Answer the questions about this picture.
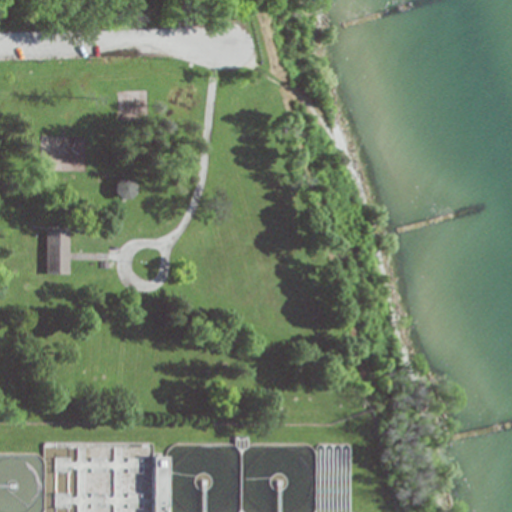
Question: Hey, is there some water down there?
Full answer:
Yes, water shows up in the scene.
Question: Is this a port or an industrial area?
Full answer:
The picture captures an industrial area.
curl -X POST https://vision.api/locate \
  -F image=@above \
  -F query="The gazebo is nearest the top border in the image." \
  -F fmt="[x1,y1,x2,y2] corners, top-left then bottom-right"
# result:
[118,180,138,200]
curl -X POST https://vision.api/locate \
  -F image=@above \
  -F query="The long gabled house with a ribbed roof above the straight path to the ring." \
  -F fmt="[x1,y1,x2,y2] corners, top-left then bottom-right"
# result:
[46,233,70,274]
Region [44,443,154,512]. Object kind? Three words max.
storage tank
